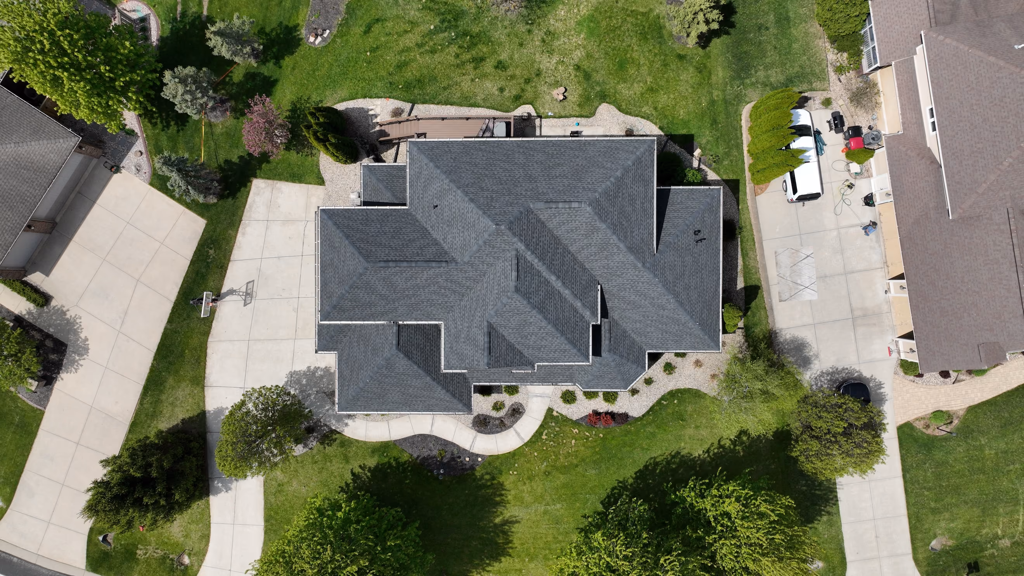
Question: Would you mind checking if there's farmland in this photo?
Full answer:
No, the picture contains no farmland.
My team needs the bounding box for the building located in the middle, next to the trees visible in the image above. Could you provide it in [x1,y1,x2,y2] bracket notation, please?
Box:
[313,136,733,416]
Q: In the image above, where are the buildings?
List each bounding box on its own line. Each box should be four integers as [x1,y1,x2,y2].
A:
[0,86,103,287]
[850,0,1024,374]
[313,136,733,416]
